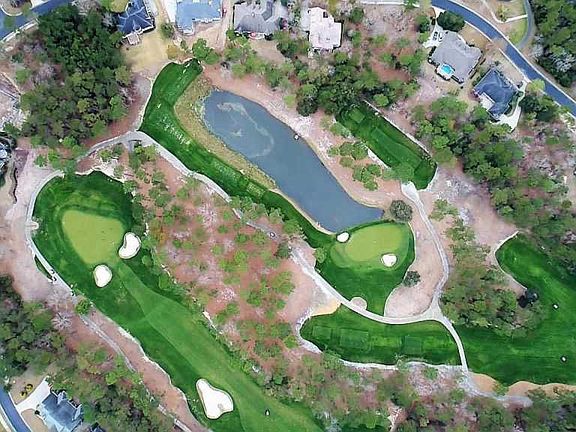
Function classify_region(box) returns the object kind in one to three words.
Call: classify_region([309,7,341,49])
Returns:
house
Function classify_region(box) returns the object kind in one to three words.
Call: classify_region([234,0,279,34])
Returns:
house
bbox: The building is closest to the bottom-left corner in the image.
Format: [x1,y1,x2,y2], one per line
[35,393,84,432]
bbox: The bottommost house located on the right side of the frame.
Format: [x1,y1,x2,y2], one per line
[471,69,518,118]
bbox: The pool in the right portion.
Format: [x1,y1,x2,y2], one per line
[436,63,453,79]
